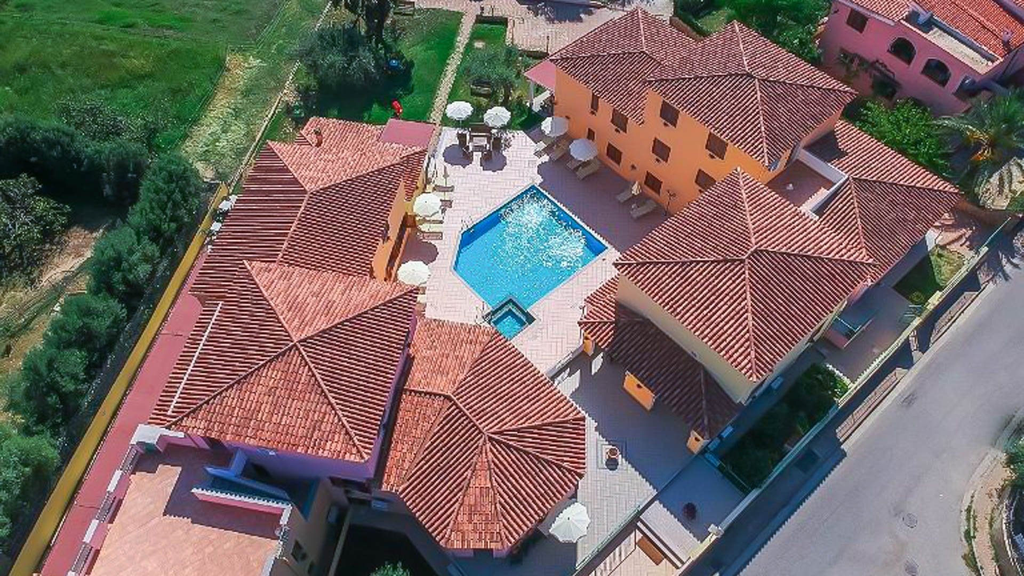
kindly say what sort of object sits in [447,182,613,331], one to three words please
swimming pool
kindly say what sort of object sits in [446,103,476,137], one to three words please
umbrella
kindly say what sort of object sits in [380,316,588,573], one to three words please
building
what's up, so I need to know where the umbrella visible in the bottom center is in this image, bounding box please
[553,504,594,548]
